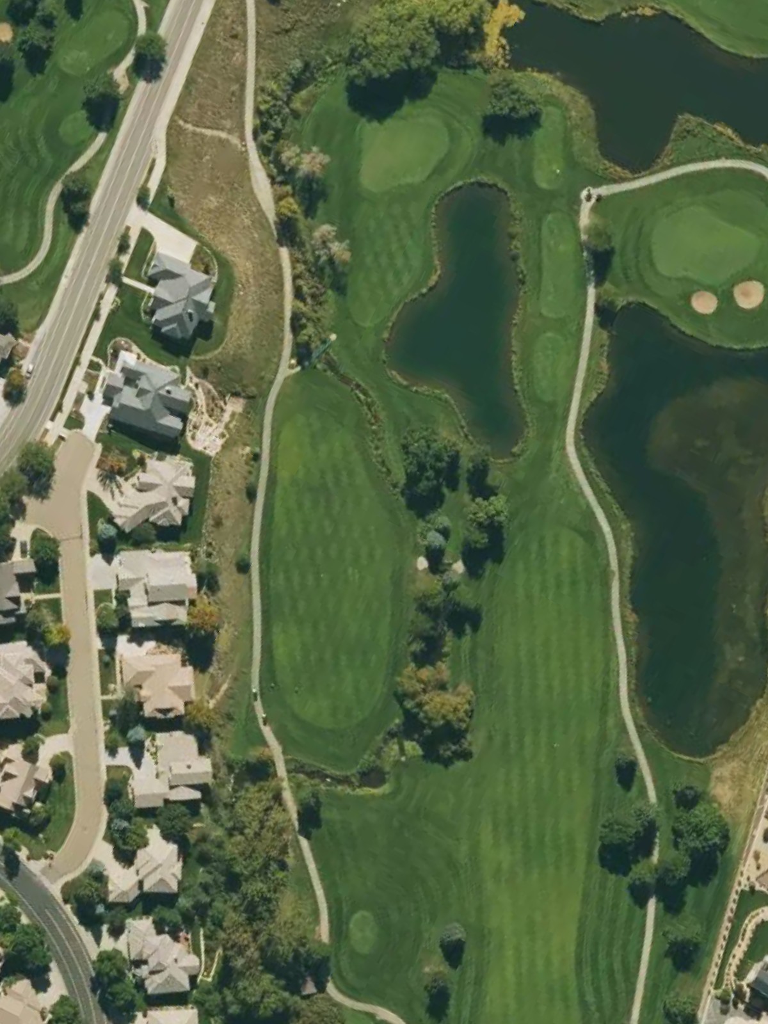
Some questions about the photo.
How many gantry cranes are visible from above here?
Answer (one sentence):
No gantry cranes are visible.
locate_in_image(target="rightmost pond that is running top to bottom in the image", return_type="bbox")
[583,302,768,756]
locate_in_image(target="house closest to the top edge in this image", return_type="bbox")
[148,250,215,341]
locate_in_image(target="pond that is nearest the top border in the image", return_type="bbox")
[507,0,768,174]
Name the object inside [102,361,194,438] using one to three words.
house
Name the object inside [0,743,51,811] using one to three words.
house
